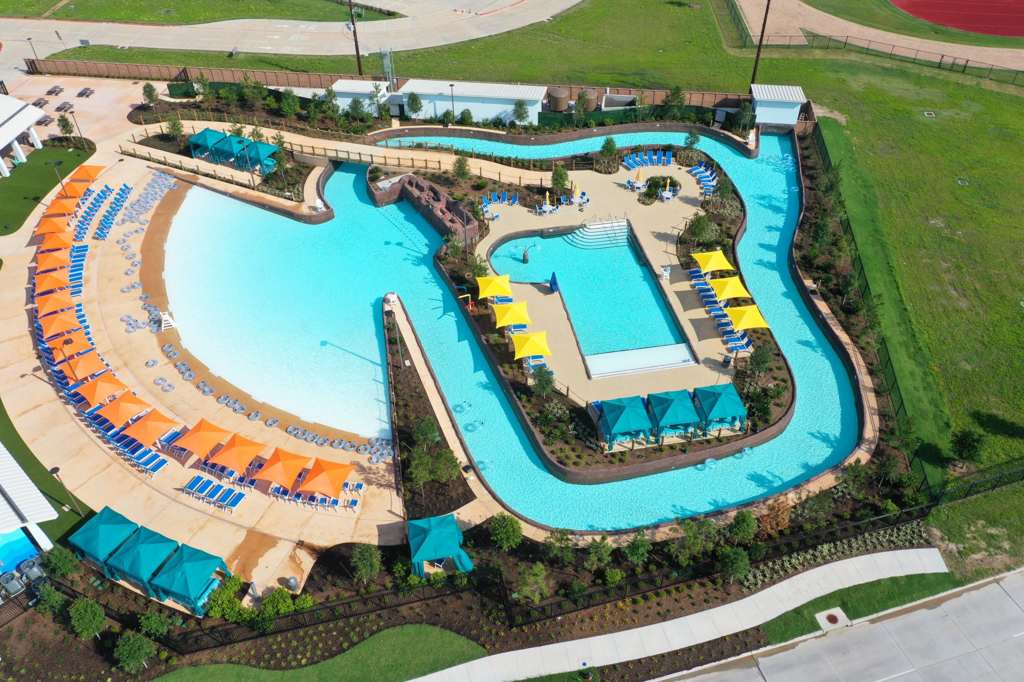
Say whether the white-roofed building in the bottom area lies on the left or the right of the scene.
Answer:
left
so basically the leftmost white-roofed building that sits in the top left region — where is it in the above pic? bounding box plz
[0,89,46,176]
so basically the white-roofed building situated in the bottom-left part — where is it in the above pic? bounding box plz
[0,443,60,572]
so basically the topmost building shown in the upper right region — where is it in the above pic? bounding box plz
[752,81,807,125]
